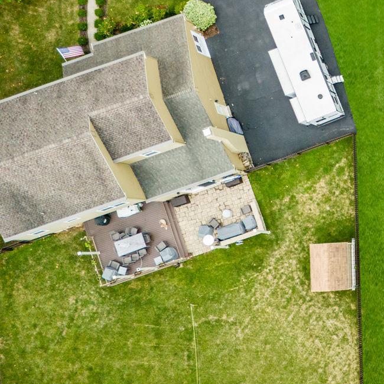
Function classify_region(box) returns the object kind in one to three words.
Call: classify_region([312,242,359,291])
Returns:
shed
